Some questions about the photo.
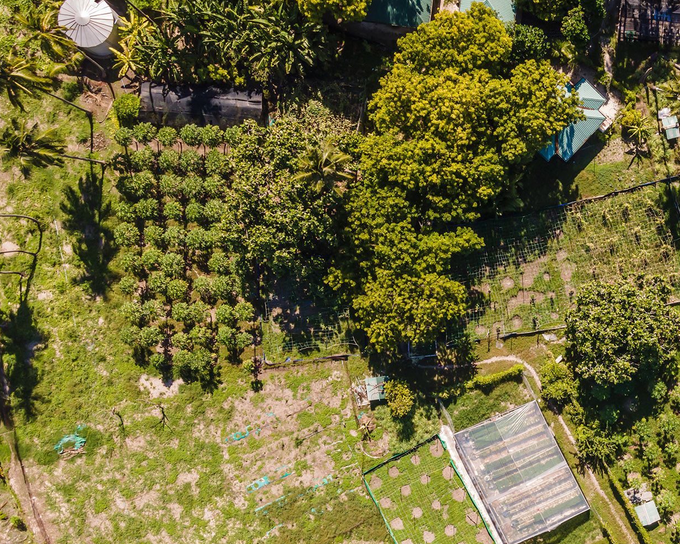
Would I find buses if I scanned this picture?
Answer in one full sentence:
No, I can see no bus in this picture.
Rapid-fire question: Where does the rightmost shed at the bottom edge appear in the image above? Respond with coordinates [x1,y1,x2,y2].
[633,501,663,526]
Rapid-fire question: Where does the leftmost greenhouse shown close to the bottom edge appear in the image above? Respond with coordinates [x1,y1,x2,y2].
[455,400,590,544]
